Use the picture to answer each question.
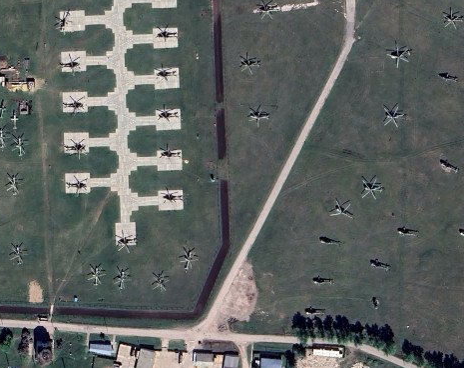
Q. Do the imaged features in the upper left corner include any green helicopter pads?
No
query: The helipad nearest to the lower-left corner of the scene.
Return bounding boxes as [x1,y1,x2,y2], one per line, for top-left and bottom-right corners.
[115,223,136,245]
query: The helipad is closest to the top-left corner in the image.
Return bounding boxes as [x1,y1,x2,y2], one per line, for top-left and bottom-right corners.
[59,11,84,32]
